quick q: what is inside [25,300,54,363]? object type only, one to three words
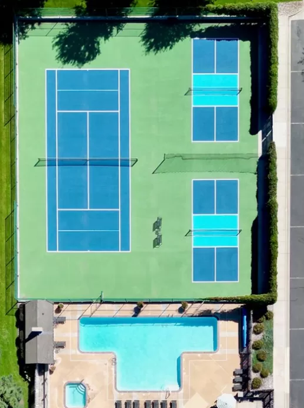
building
